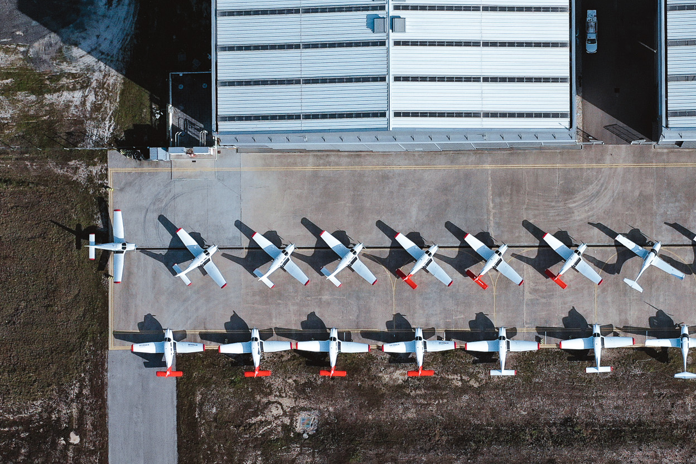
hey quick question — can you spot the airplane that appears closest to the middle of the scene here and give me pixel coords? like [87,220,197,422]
[319,232,376,288]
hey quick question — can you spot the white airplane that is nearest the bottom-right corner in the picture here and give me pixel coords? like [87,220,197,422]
[646,325,696,378]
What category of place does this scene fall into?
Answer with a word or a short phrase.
airport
